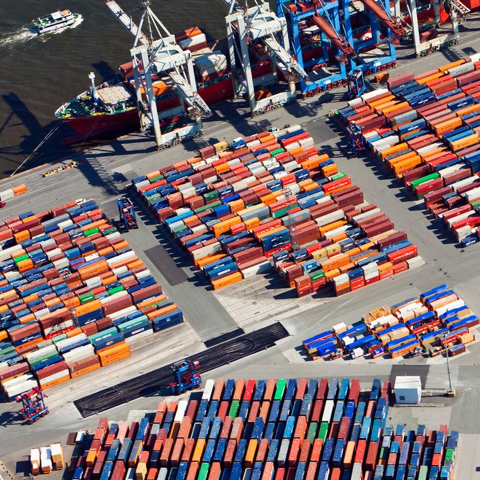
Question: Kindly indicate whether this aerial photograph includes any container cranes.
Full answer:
Yes, the picture does show a container crane.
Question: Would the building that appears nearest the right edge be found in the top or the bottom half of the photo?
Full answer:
Seen from above, the building that appears nearest the right edge lies in the bottom half of the view.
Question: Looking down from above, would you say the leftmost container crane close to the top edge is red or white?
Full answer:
The leftmost container crane close to the top edge looks white in the image.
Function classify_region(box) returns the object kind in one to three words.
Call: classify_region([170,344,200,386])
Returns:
work vehicle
